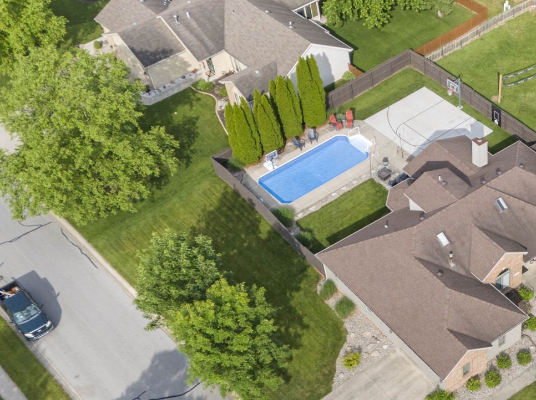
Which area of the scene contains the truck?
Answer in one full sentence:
Look in the bottom left portion of the view to spot the truck.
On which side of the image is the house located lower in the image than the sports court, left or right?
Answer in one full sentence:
The house located lower in the image than the sports court sits on the right side.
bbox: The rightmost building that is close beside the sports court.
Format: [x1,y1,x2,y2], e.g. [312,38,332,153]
[314,134,536,394]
